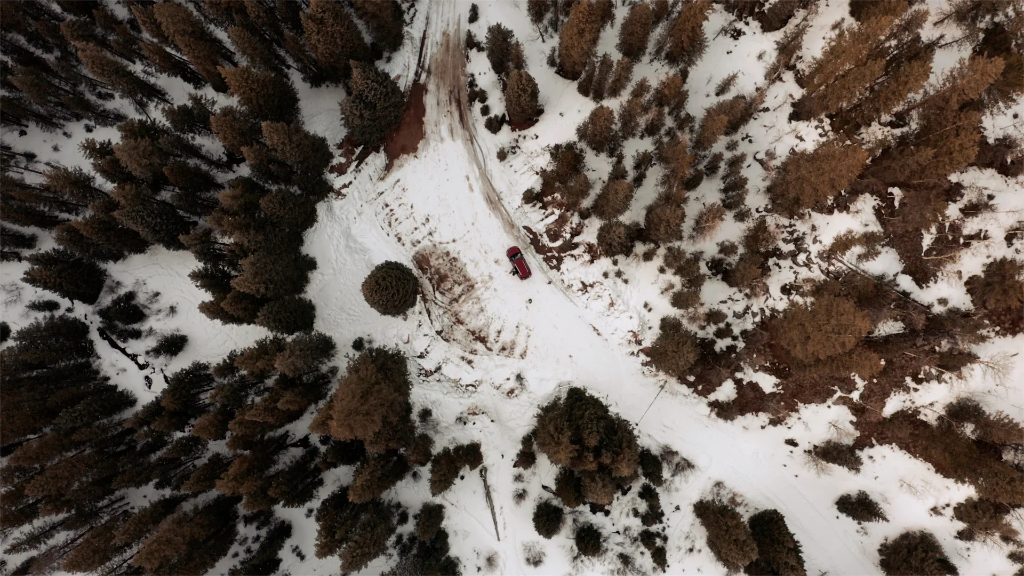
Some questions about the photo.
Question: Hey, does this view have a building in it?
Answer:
No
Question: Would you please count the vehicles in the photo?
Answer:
one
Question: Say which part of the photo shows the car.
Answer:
center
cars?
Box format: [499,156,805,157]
[508,245,531,281]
